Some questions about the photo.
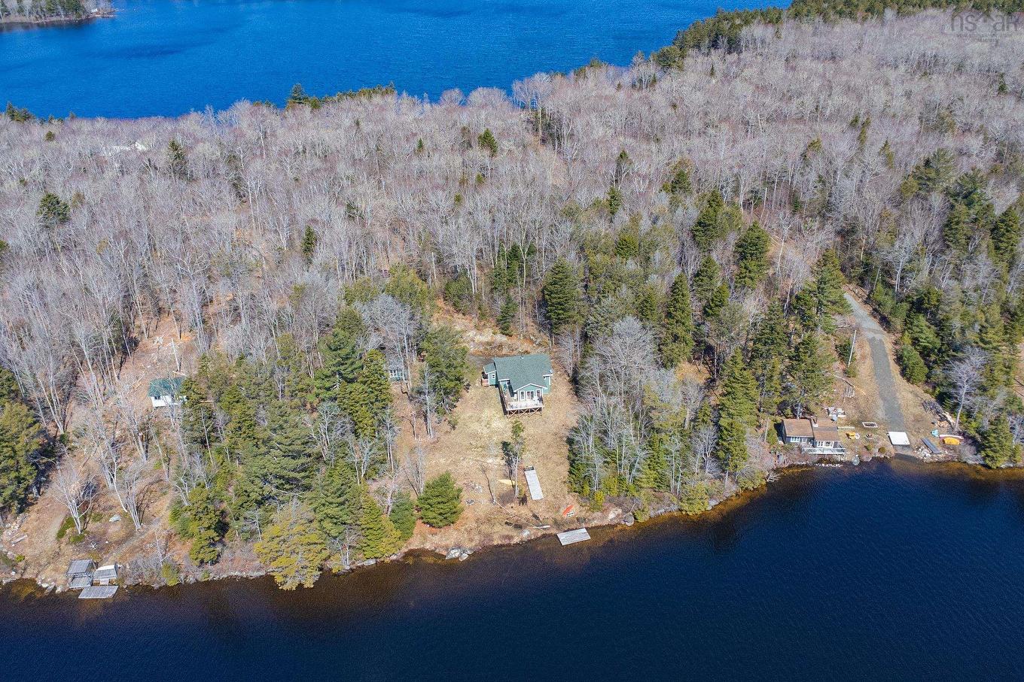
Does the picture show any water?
Yes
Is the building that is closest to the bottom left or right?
left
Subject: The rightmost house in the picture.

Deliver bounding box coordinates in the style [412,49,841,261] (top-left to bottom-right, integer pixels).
[779,418,846,466]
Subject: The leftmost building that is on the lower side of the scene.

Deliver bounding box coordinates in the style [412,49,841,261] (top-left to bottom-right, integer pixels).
[62,555,101,590]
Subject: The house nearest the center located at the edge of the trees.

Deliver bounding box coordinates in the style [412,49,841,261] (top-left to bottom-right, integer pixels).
[478,349,554,419]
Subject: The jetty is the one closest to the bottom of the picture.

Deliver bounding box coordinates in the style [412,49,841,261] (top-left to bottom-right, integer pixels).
[79,586,120,600]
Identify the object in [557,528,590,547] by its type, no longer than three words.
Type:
pier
